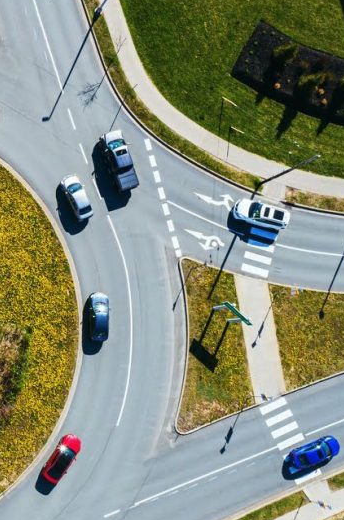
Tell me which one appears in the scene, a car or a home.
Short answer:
car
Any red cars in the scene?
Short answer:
Yes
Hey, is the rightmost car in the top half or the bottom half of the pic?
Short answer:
bottom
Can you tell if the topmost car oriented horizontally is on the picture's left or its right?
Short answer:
right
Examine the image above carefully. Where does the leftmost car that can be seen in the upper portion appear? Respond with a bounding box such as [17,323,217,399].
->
[60,177,93,222]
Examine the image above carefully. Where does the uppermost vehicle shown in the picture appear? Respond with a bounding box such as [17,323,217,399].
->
[103,132,139,191]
